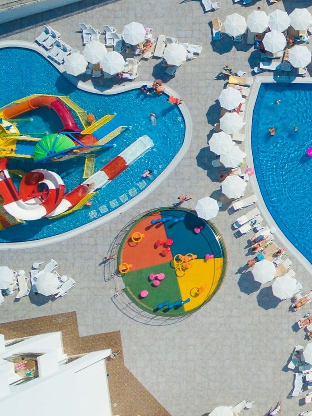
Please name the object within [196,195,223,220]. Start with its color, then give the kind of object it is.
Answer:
white umbrella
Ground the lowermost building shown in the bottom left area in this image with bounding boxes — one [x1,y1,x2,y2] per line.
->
[0,331,114,416]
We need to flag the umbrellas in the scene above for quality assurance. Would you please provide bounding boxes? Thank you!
[288,45,312,69]
[0,266,26,290]
[246,9,269,33]
[209,132,235,154]
[253,259,277,283]
[304,343,312,363]
[267,7,291,32]
[222,113,246,136]
[196,195,223,220]
[275,275,298,299]
[210,401,236,416]
[219,88,244,112]
[291,7,312,30]
[103,51,129,74]
[222,174,249,198]
[38,271,69,294]
[166,44,190,67]
[225,11,249,36]
[124,21,153,46]
[222,143,246,167]
[66,52,93,76]
[85,39,114,63]
[265,30,287,53]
